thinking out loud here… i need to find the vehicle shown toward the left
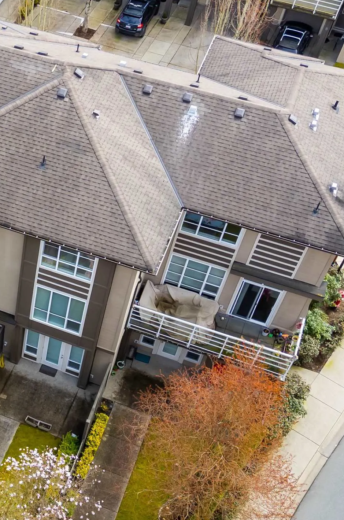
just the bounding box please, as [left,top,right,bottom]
[115,0,159,36]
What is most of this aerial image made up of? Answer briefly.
buildings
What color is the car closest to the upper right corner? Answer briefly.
black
